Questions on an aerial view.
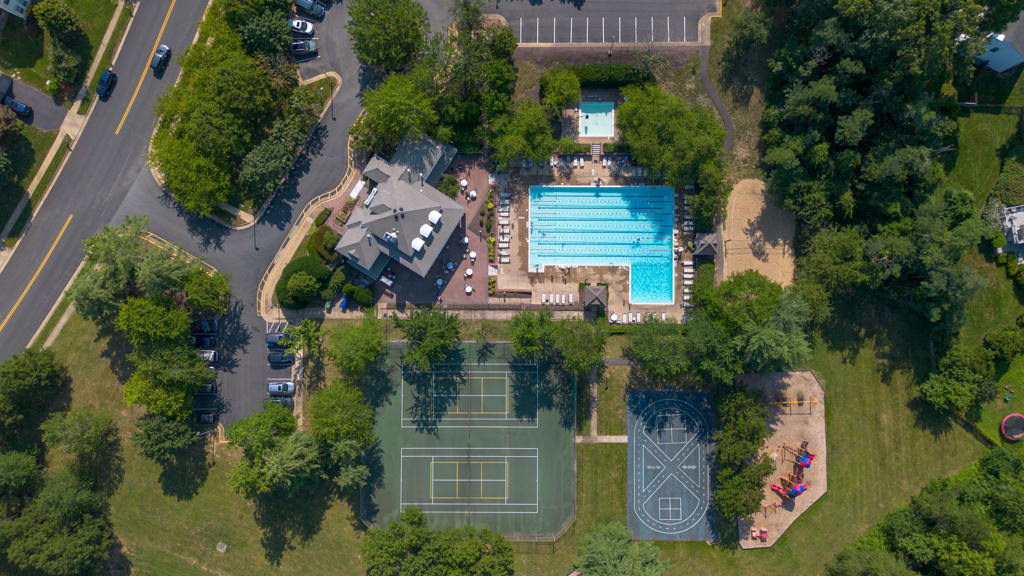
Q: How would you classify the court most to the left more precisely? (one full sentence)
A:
In the photo, the court most to the left shows up as a tennis court.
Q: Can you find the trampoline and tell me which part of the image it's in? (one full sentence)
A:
The trampoline sits in the bottom right section of the image.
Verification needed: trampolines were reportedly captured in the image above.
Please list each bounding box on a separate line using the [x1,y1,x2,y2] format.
[1000,414,1024,441]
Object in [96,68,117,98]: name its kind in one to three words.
vehicle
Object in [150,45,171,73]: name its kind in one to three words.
car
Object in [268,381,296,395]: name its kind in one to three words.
car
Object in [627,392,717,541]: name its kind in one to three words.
sports court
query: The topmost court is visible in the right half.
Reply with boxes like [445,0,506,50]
[723,179,797,290]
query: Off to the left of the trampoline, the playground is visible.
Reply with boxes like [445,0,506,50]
[735,369,828,550]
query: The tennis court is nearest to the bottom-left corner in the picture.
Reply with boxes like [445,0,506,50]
[366,342,575,536]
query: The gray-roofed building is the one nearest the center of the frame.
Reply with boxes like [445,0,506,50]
[584,285,608,307]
